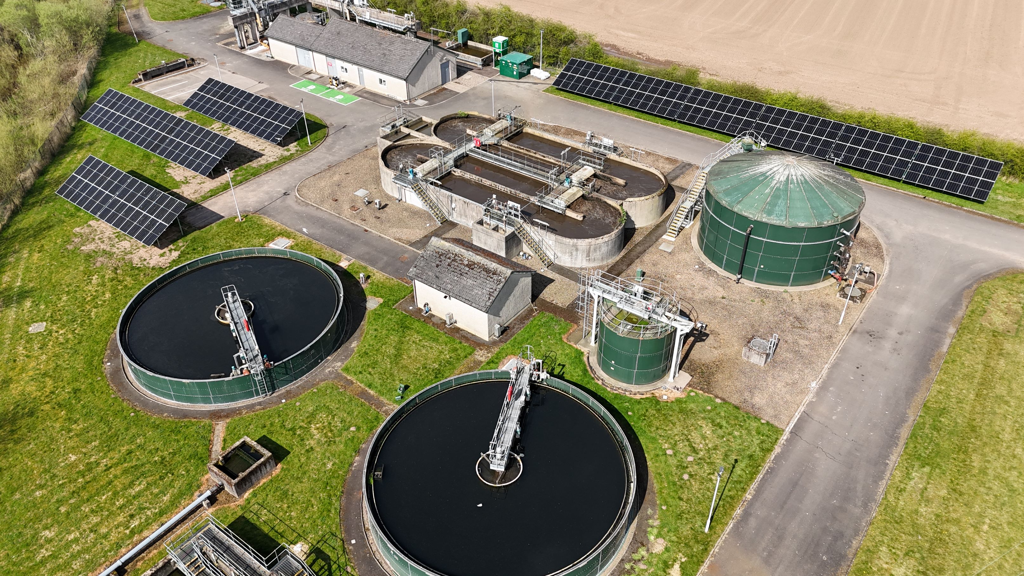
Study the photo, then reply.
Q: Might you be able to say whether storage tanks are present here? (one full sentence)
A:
Yes, there's a storage tank here.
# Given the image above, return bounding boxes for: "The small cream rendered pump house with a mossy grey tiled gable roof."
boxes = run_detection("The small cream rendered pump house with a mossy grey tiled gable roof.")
[408,236,538,341]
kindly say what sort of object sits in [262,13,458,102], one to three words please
building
